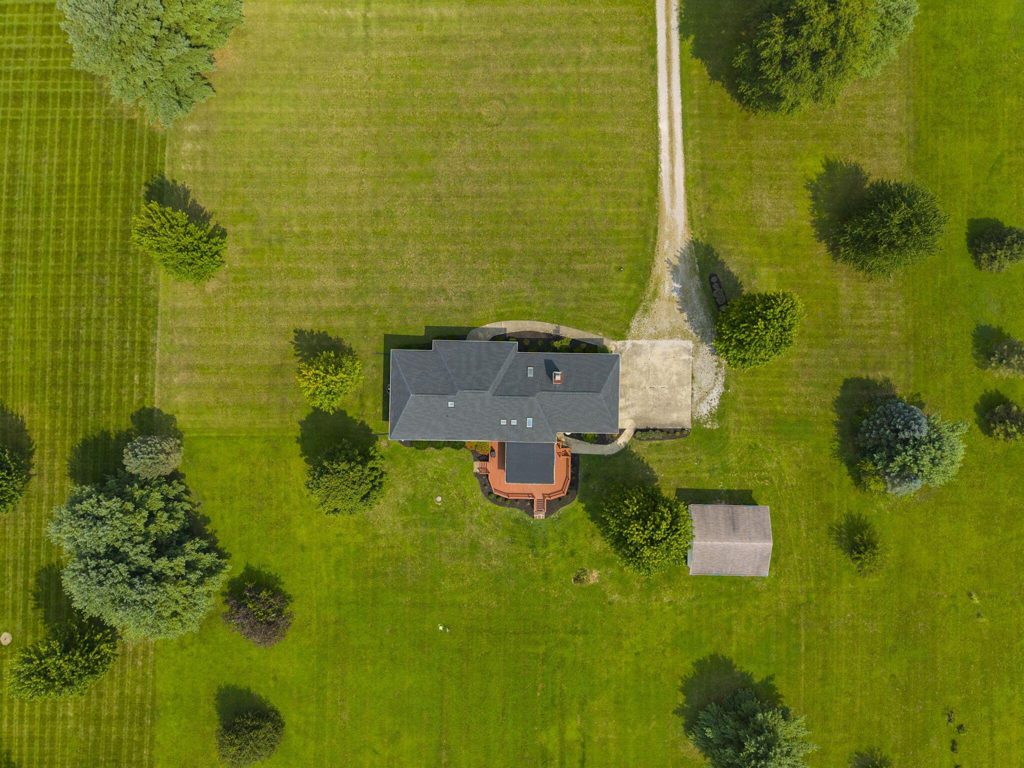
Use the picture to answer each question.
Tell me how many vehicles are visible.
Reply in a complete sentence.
The picture shows no vehicles.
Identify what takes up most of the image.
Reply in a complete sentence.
The scene is dominated by grass.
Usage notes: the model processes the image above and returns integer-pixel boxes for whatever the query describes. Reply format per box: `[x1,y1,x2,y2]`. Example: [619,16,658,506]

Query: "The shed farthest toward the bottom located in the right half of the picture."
[685,504,773,576]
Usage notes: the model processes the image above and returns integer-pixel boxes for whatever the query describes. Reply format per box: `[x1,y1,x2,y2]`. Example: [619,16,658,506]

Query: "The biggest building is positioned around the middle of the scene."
[388,339,621,485]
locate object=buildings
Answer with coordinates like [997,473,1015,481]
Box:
[388,339,621,485]
[685,504,773,576]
